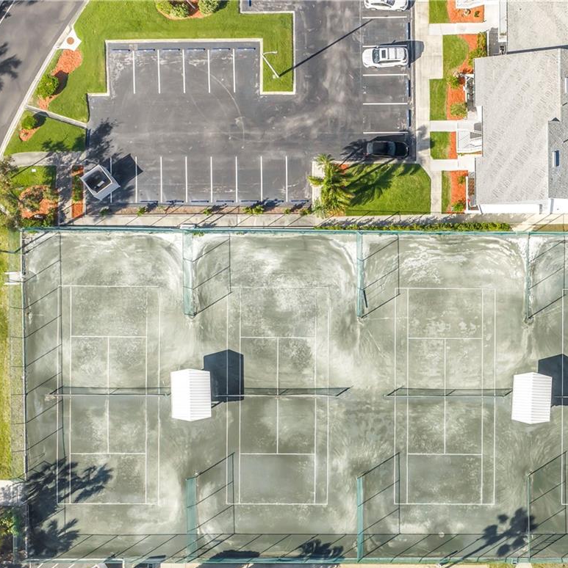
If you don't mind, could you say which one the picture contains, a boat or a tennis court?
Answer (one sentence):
This aerial view contains a tennis court.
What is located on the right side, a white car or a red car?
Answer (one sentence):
The one visible on the right side is a white car.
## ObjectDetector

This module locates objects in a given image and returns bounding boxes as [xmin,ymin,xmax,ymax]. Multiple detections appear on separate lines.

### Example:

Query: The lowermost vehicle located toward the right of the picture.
[365,139,411,161]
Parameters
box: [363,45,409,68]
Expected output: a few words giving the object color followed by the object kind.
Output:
white car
